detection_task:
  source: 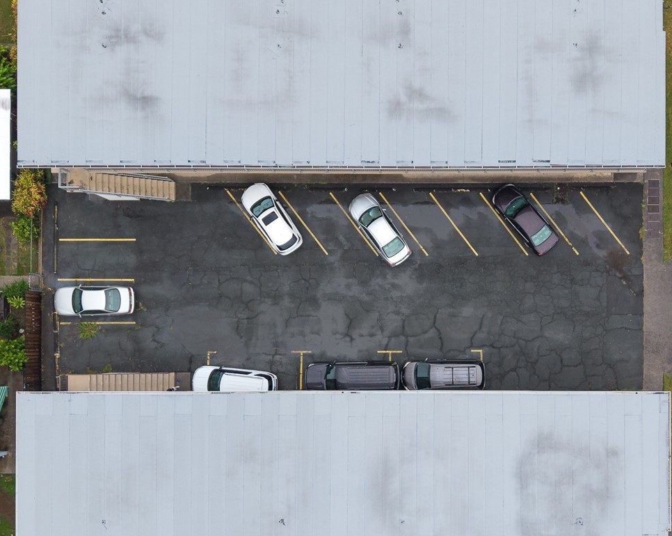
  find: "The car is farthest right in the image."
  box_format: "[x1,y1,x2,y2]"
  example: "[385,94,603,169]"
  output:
[493,184,559,257]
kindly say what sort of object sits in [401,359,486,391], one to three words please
car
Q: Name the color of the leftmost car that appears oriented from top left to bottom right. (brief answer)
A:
white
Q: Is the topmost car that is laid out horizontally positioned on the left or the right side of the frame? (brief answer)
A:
left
